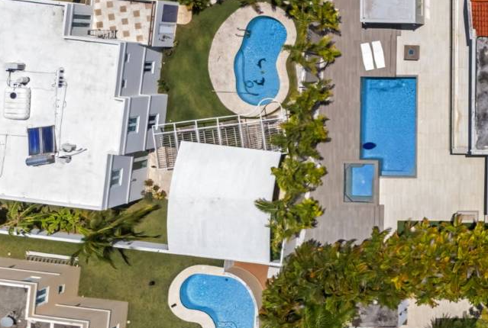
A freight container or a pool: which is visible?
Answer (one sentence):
Looking from above, you can make out a pool.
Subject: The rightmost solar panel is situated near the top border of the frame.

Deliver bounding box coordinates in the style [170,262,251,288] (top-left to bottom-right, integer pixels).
[161,5,180,23]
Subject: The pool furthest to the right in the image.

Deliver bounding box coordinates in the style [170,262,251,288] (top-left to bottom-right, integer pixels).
[359,76,418,178]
